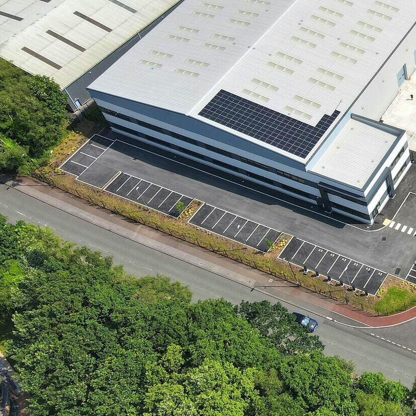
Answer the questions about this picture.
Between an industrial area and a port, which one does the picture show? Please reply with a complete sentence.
The area seen from above is an industrial area.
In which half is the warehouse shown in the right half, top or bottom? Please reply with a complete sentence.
The warehouse shown in the right half sits in the top half of the picture.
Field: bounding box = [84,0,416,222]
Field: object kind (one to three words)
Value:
warehouse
